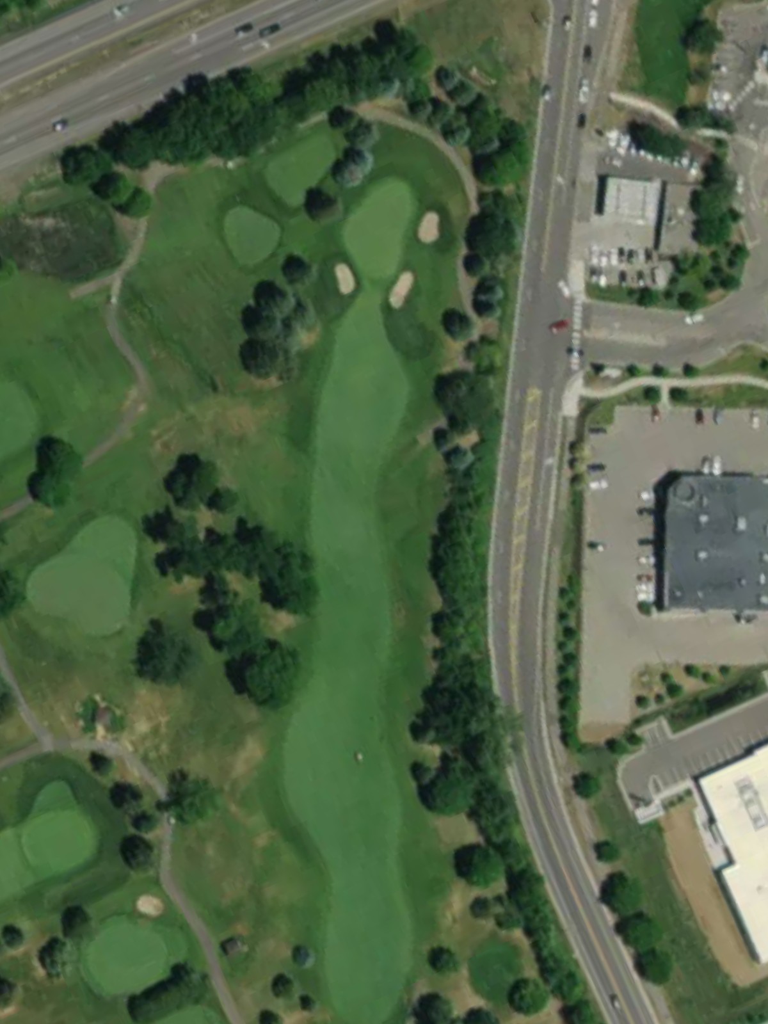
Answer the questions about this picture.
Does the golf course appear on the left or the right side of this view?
left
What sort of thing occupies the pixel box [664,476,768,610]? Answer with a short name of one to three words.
building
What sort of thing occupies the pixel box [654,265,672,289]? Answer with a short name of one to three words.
shed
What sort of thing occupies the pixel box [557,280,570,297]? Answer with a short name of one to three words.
vehicle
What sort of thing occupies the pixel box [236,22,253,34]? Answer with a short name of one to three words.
vehicle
